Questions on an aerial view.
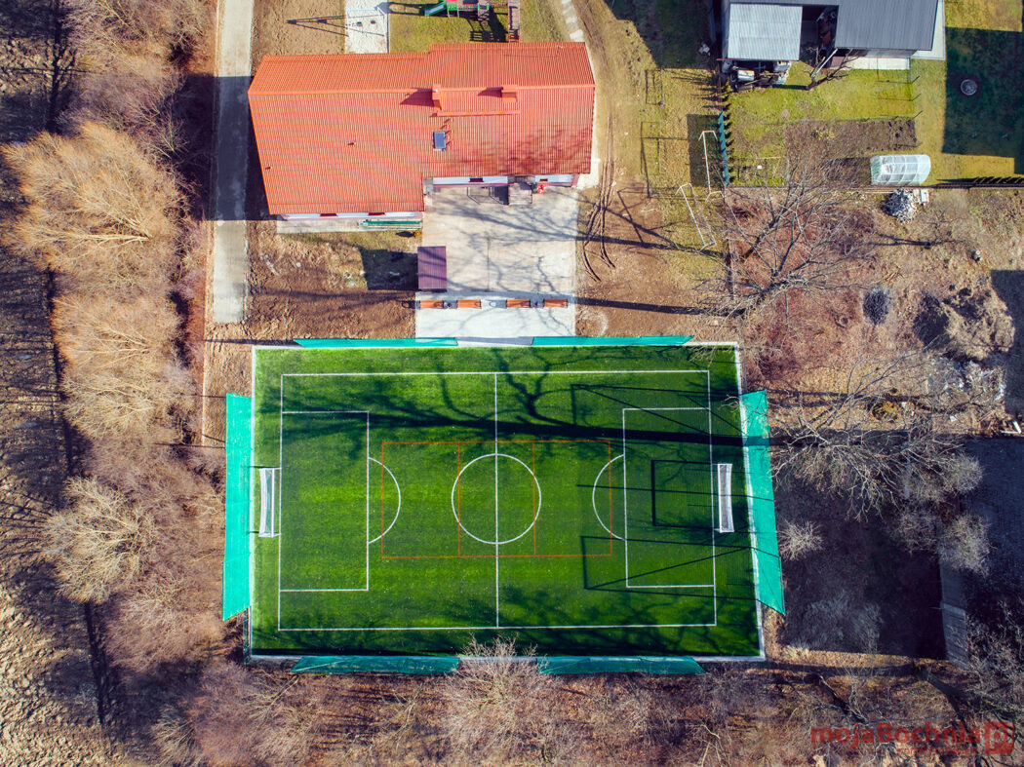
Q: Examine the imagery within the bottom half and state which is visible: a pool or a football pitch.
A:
football pitch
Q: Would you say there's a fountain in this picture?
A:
No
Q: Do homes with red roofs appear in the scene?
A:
Yes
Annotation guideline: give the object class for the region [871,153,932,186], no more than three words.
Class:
greenhouse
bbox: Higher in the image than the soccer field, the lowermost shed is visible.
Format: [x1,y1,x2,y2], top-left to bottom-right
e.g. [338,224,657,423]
[418,247,447,294]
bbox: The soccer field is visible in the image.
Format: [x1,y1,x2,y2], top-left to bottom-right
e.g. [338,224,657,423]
[247,343,765,661]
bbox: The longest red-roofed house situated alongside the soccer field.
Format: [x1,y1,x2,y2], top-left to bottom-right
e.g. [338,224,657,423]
[248,39,596,220]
